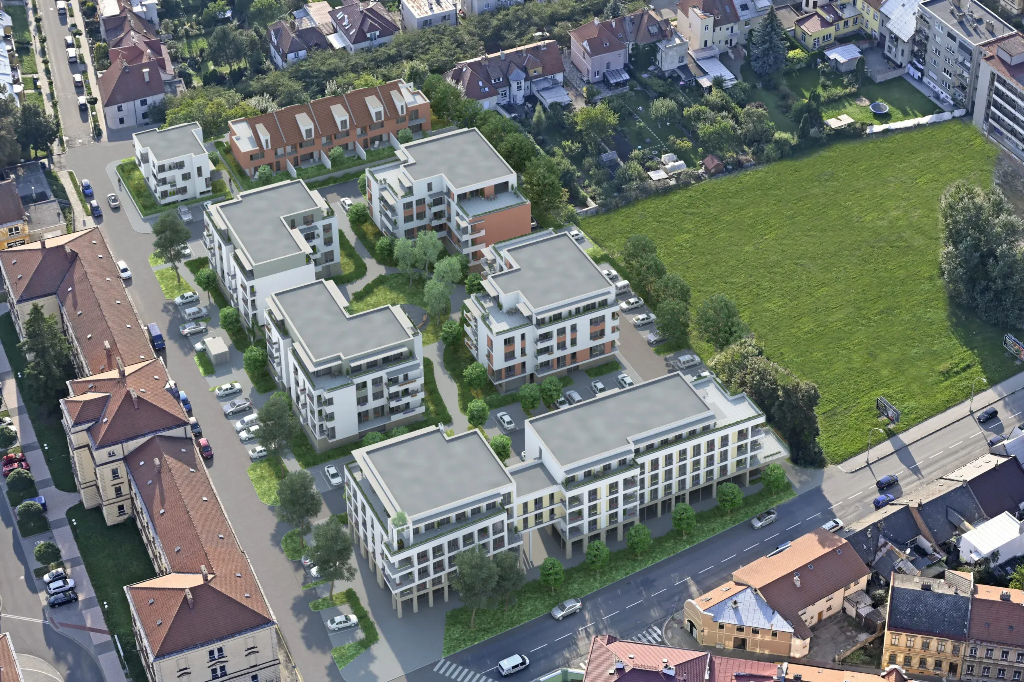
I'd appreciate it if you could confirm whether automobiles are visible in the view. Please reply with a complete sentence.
Yes, there is an automobile in the image.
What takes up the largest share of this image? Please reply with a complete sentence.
What you mostly see from above here is buildings.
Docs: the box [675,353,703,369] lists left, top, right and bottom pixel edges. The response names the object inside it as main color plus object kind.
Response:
gray car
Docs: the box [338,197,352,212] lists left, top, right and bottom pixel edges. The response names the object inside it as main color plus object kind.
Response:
white car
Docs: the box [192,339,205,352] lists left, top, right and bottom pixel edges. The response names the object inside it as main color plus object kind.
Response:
white vehicle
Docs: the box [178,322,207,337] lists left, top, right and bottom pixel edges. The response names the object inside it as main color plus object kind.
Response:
gray car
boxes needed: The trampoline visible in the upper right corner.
[869,99,891,111]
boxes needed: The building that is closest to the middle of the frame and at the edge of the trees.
[459,227,624,394]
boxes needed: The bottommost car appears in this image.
[496,653,532,676]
